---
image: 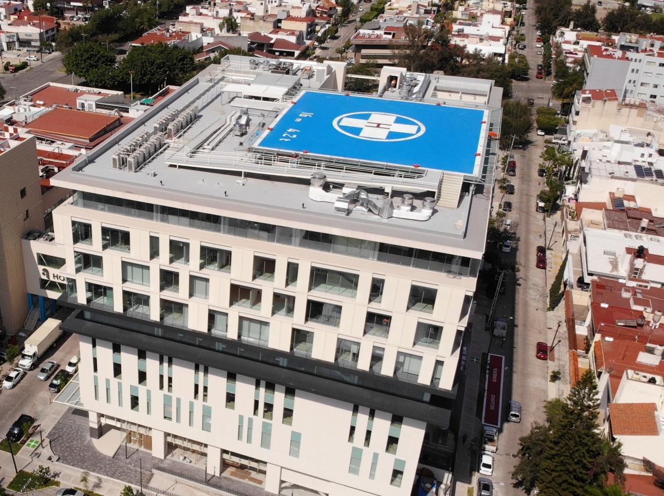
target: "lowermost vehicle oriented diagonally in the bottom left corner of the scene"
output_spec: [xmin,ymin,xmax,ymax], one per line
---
[0,411,40,441]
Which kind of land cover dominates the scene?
buildings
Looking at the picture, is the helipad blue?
Yes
